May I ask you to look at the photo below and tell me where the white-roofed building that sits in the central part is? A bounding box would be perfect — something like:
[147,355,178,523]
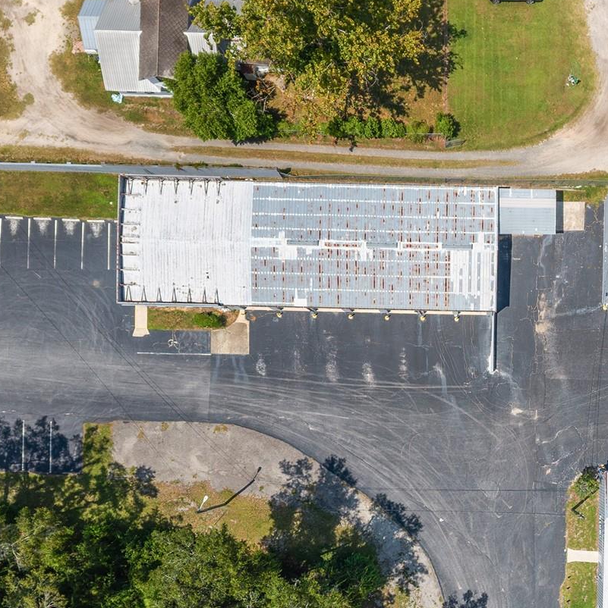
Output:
[110,172,499,318]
